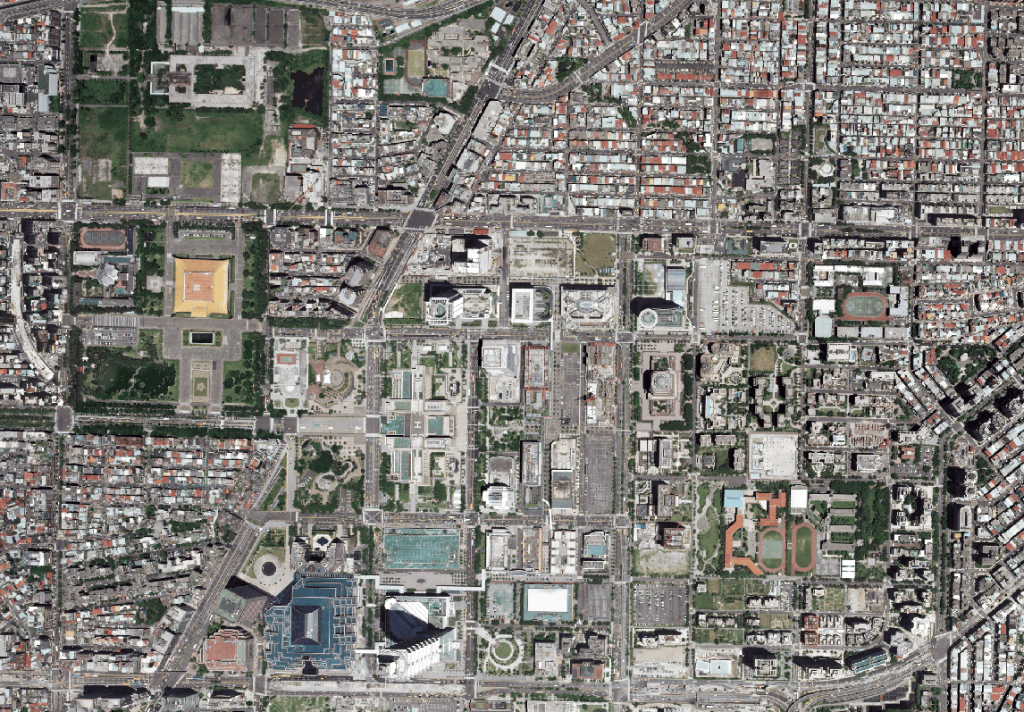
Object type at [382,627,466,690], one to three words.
building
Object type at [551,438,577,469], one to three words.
building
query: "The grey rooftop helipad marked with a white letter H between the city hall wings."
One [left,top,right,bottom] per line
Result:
[411,415,429,436]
